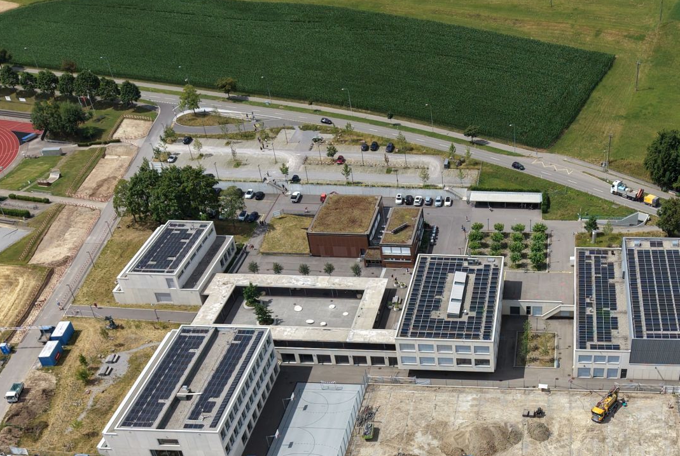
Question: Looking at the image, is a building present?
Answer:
Yes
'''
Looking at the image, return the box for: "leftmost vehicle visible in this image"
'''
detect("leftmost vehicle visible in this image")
[1,377,23,396]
